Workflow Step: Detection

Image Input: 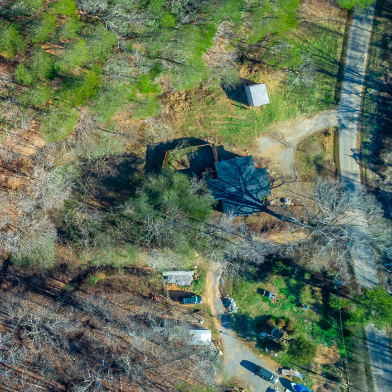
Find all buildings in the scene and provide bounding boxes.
[198,149,271,217]
[159,269,194,285]
[244,84,269,107]
[168,326,211,343]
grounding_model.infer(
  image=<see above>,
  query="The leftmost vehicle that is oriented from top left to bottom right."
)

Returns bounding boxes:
[254,364,279,383]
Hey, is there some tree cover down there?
Yes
